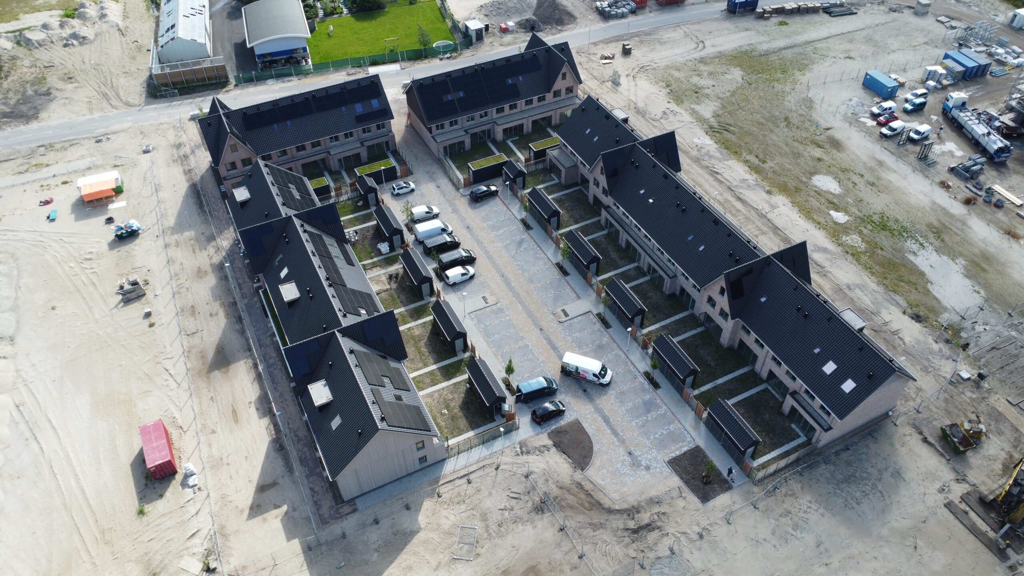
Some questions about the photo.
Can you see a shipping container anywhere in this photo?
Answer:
Yes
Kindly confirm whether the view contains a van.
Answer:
Yes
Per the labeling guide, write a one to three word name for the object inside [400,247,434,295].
shed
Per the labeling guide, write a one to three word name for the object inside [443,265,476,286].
vehicle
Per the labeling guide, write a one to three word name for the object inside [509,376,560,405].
van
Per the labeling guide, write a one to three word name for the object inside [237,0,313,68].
building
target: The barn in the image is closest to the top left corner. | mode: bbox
[155,0,213,63]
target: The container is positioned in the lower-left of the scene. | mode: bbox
[138,419,178,481]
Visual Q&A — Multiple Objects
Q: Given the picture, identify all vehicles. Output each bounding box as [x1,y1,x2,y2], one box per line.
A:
[469,183,499,201]
[564,352,613,386]
[509,376,560,405]
[443,265,476,286]
[424,230,461,252]
[943,93,1012,159]
[875,111,900,126]
[881,118,908,137]
[902,86,930,100]
[409,204,439,221]
[392,180,416,195]
[439,246,476,267]
[531,401,566,425]
[411,216,452,241]
[908,122,934,141]
[870,101,899,116]
[902,97,930,113]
